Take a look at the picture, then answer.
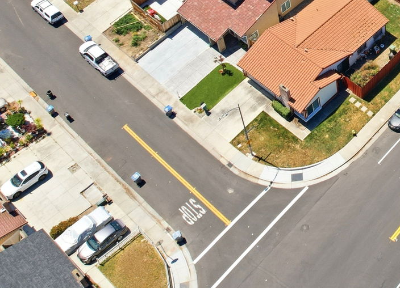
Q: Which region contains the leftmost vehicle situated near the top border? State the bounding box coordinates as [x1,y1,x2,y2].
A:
[30,0,66,26]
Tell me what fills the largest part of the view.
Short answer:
paved ground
